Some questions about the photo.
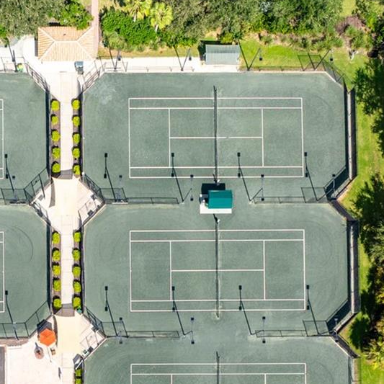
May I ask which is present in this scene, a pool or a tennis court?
tennis court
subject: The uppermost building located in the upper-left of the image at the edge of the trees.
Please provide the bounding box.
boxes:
[37,27,98,65]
